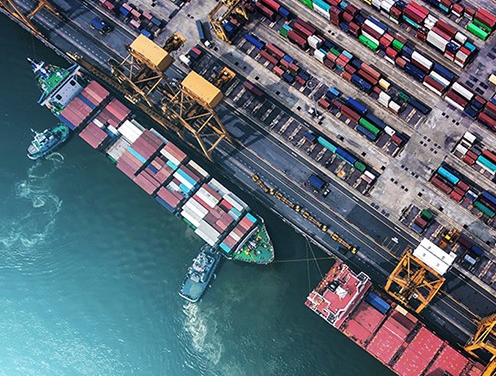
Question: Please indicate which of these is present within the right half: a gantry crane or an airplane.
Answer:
gantry crane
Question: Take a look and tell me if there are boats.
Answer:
Yes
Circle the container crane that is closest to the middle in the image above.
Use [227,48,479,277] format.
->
[162,54,235,164]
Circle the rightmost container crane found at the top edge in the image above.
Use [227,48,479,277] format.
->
[204,0,252,48]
